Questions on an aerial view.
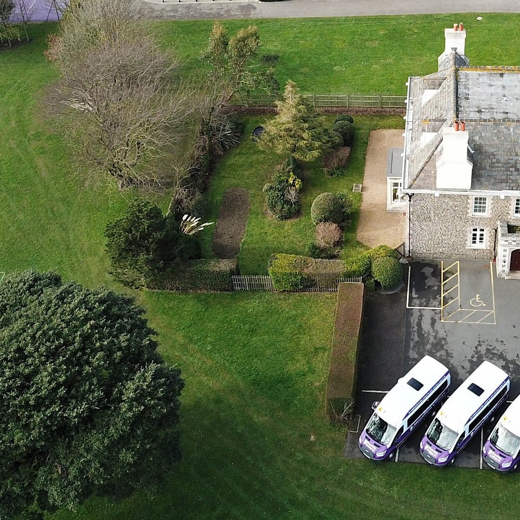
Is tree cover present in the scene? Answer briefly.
Yes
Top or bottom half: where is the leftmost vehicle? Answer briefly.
bottom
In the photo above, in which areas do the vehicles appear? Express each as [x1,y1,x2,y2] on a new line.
[478,392,520,479]
[417,360,511,474]
[358,355,453,467]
